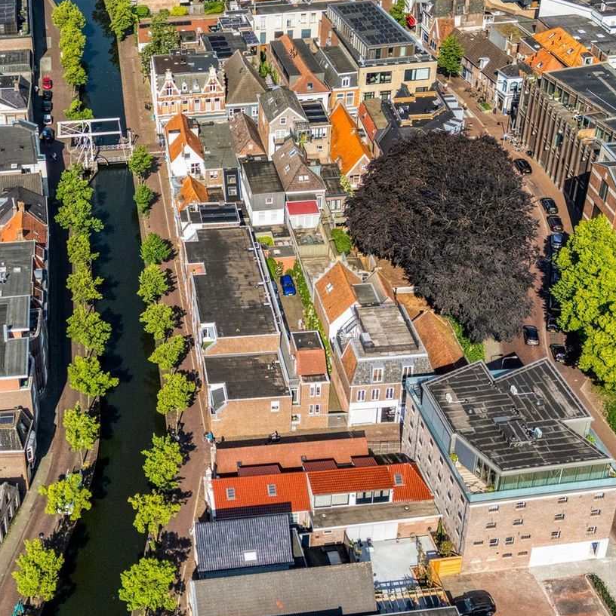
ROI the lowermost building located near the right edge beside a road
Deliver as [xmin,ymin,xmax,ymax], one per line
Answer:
[402,357,616,575]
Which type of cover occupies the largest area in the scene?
buildings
